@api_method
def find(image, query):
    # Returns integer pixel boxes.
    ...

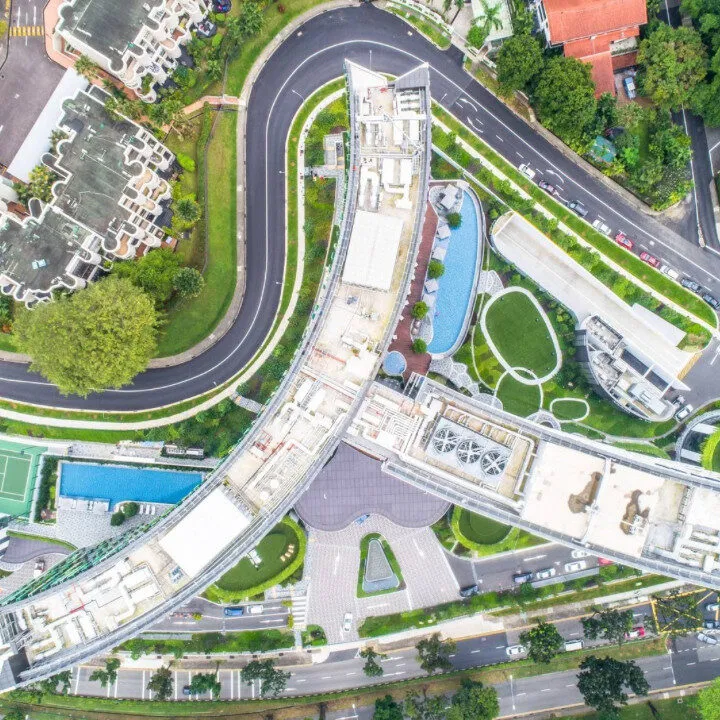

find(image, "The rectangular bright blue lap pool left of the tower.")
[56,461,205,522]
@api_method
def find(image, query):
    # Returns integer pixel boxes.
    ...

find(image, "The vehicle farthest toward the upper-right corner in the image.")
[622,77,636,98]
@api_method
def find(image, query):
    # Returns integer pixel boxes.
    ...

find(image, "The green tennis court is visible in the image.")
[0,440,46,521]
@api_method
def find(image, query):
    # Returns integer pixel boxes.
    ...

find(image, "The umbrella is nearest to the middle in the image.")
[424,278,439,294]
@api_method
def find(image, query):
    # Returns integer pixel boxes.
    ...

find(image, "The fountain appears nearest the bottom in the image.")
[363,537,399,592]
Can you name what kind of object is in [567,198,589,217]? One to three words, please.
vehicle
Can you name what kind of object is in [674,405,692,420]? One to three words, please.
car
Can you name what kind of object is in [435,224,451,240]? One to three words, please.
umbrella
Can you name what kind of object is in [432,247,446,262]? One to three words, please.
umbrella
